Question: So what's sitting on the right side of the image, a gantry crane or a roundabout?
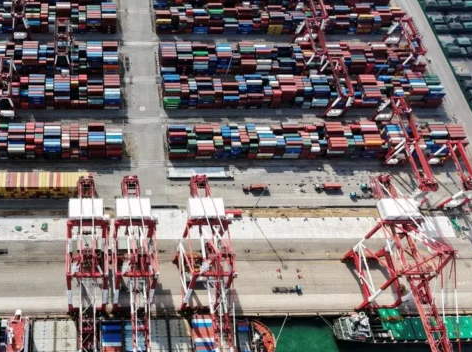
gantry crane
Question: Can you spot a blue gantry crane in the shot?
No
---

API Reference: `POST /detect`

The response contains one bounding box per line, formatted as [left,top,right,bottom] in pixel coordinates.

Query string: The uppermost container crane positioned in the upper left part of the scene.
[11,0,34,41]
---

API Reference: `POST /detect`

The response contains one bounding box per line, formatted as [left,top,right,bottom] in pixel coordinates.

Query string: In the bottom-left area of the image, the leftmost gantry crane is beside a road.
[65,170,112,352]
